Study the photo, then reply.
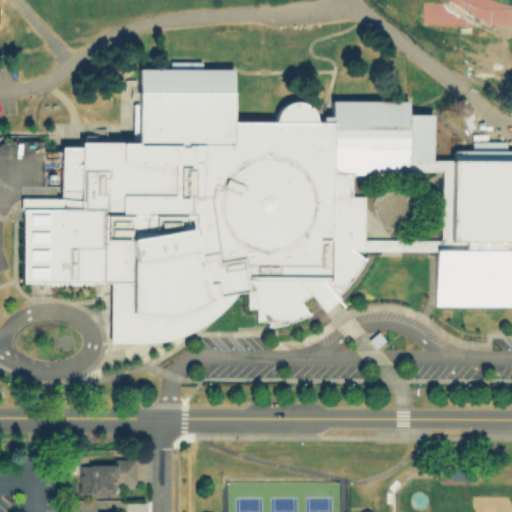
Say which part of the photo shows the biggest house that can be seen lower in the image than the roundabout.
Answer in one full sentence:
You can find the biggest house that can be seen lower in the image than the roundabout in the bottom left area of the picture.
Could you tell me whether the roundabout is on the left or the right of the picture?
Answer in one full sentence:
The roundabout appears in the left half of the scene.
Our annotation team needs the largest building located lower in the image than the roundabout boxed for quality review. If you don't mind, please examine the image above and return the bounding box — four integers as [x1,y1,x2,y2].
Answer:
[80,460,137,498]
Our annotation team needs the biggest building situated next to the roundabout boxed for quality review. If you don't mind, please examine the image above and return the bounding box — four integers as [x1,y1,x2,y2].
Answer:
[23,62,367,344]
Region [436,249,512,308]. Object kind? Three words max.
building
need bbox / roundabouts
[0,303,102,380]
